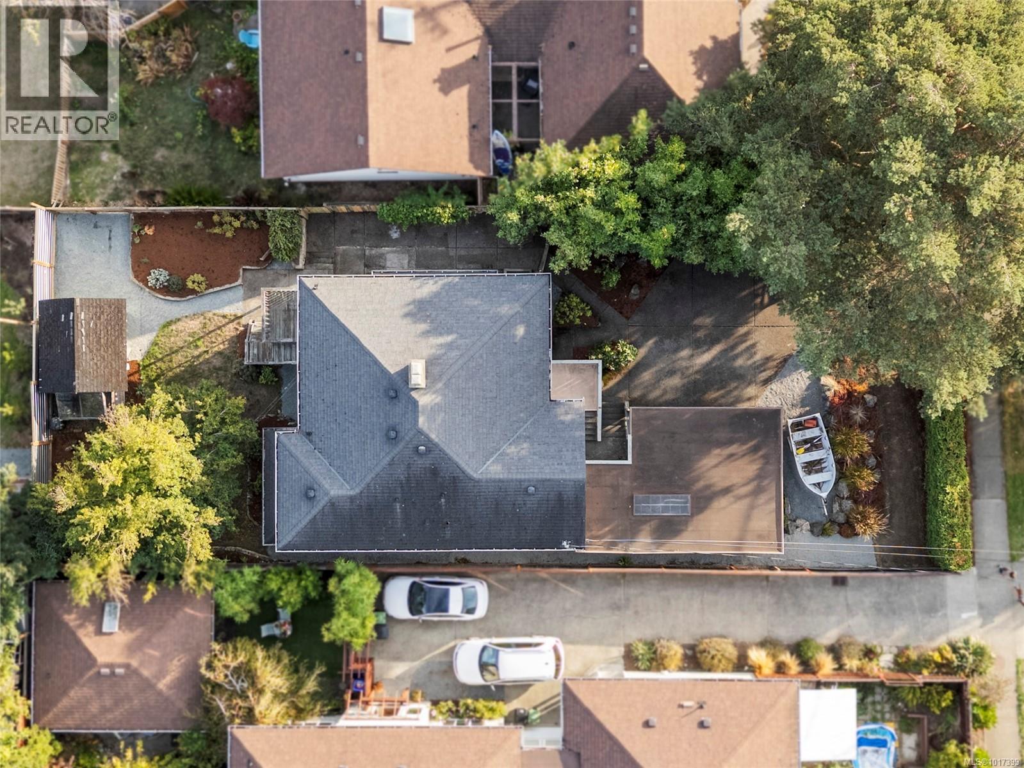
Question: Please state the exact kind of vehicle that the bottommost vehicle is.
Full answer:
Looking closely, the bottommost vehicle is a car.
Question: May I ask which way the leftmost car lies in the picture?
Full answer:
What the image shows is the leftmost car lying horizontally.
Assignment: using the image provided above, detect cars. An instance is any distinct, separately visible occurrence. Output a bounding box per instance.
[387,575,487,624]
[459,635,560,689]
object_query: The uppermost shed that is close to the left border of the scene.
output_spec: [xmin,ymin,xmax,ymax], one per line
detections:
[37,297,131,392]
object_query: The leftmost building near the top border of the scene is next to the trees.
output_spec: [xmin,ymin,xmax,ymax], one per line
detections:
[257,0,495,182]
